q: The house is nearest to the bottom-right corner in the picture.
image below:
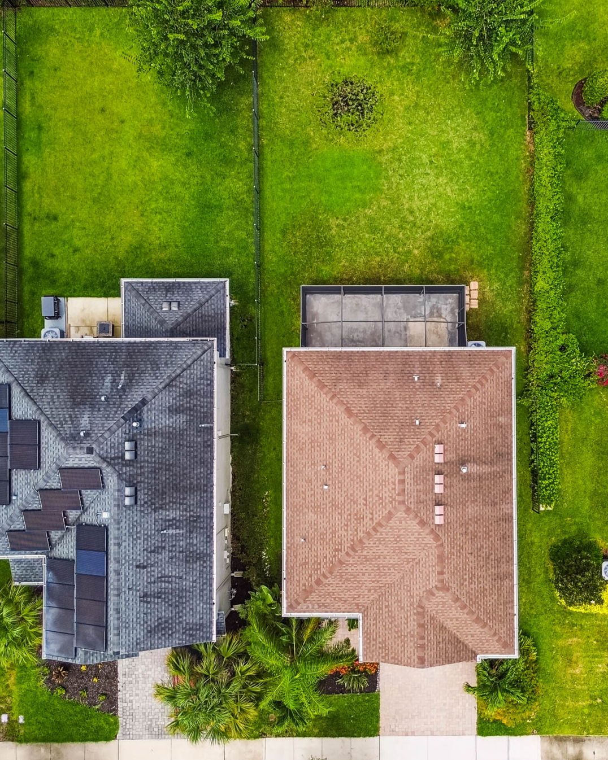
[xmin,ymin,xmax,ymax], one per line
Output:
[280,287,520,672]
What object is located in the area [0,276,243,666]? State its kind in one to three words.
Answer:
house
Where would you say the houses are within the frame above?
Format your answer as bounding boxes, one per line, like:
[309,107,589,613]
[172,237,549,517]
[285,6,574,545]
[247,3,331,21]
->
[0,276,243,666]
[280,287,520,672]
